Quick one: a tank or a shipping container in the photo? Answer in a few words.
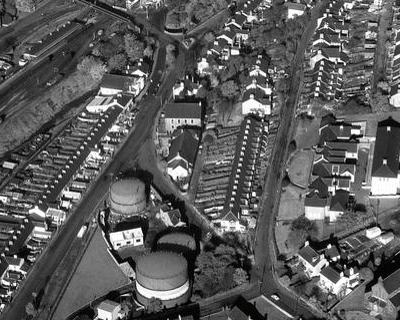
tank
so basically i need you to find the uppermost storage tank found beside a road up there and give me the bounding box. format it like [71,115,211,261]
[110,176,147,213]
